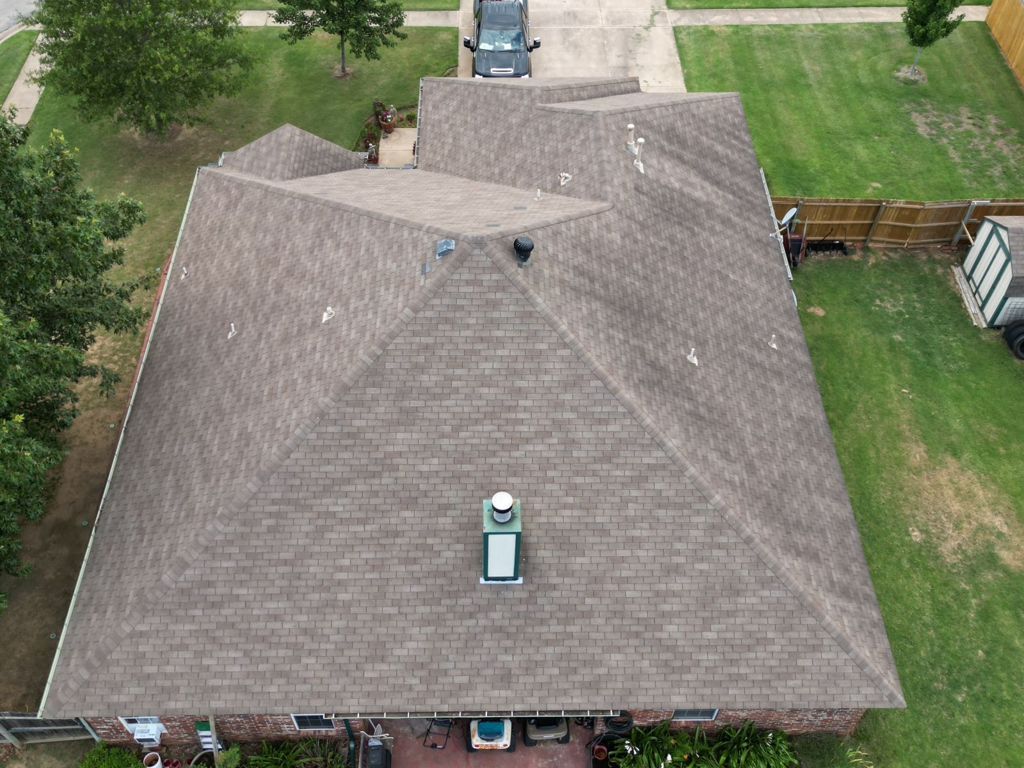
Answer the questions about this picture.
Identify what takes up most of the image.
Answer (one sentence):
What you mostly see from above here is buildings.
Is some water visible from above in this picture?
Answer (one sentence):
No, there's no water in this view.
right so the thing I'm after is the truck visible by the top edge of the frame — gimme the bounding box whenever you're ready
[463,0,541,78]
